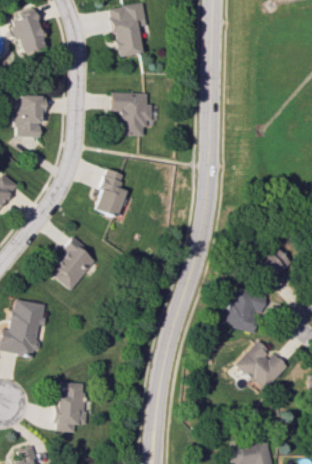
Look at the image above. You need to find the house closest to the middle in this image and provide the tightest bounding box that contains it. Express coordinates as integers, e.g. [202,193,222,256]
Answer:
[97,170,126,216]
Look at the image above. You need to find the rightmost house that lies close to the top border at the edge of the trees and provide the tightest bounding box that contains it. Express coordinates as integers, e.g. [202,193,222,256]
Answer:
[108,2,148,58]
